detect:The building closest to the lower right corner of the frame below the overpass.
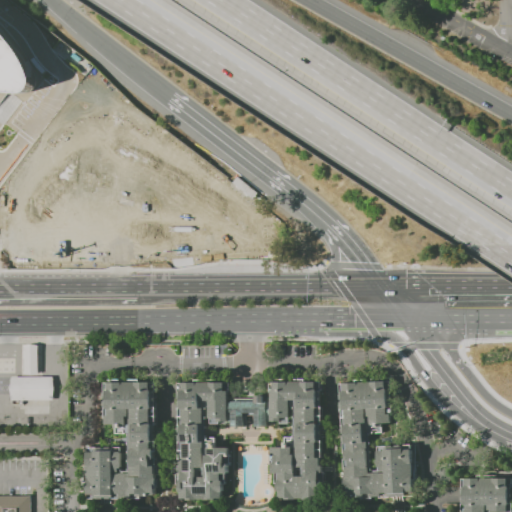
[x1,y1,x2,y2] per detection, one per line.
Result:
[458,474,506,512]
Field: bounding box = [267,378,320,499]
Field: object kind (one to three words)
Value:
building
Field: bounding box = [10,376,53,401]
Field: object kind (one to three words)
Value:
building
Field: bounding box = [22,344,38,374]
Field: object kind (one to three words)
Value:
shed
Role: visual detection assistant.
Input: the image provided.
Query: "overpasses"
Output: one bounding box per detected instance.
[453,162,512,280]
